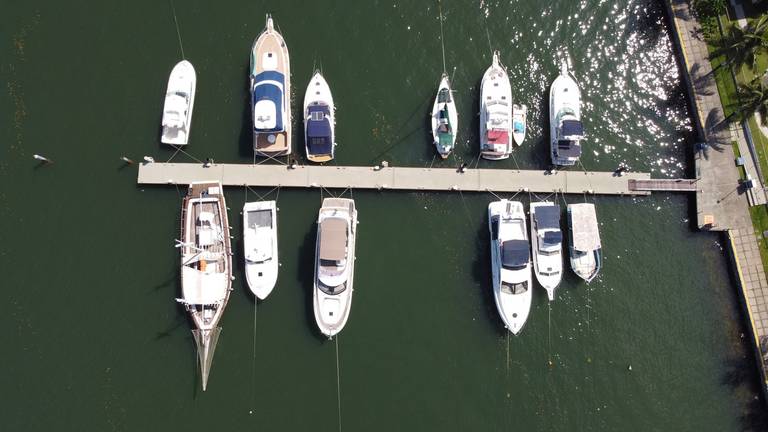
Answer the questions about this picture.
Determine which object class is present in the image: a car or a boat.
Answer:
boat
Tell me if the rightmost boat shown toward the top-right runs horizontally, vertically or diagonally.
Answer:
vertically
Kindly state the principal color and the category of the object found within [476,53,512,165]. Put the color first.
white boat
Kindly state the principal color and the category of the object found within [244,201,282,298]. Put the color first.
white boat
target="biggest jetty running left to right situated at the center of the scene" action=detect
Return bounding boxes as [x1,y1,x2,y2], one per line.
[137,162,650,196]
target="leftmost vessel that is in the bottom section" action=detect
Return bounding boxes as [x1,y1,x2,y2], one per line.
[175,181,237,390]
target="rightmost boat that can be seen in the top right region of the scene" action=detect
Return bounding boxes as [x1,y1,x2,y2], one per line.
[548,62,590,170]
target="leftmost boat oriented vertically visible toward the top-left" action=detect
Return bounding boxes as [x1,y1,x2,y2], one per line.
[161,58,200,147]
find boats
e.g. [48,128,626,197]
[161,58,200,147]
[303,68,338,164]
[476,53,512,165]
[527,201,563,304]
[430,73,460,160]
[548,62,590,170]
[312,200,360,344]
[244,201,282,298]
[250,20,296,161]
[513,103,526,146]
[488,200,532,337]
[564,204,602,281]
